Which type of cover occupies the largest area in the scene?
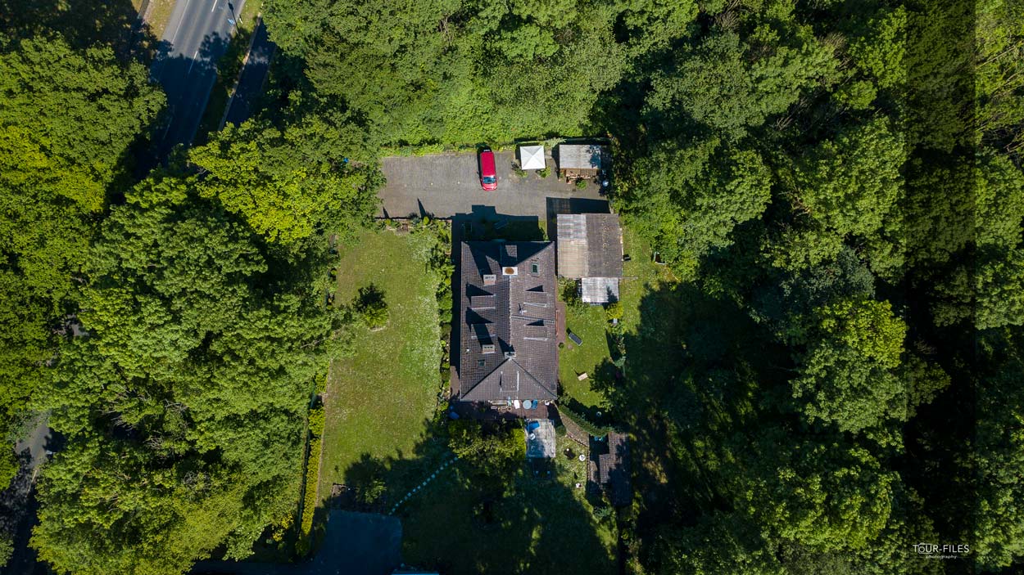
trees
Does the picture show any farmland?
No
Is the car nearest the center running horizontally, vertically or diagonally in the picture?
vertically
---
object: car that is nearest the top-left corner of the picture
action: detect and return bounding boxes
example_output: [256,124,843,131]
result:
[479,146,500,192]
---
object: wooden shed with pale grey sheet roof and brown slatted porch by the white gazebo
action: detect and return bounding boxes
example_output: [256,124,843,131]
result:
[559,144,601,180]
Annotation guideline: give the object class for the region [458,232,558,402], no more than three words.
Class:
house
